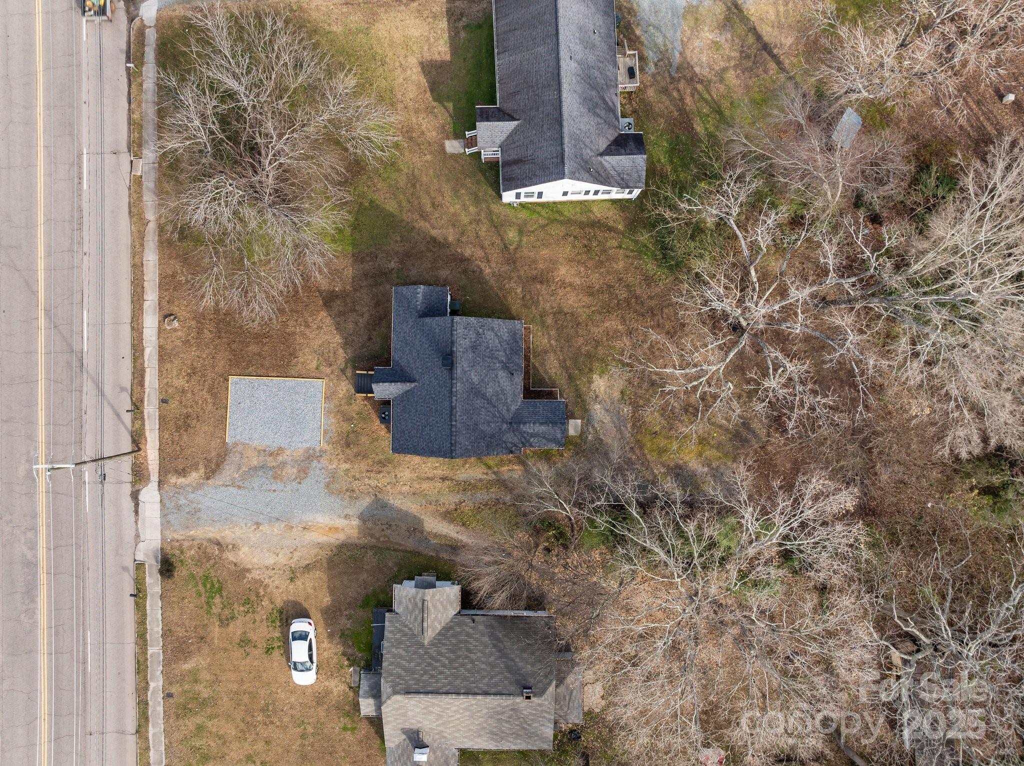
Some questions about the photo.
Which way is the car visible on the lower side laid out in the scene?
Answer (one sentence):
The car visible on the lower side is laid out up and down.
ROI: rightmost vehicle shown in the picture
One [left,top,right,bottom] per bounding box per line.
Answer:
[289,617,319,684]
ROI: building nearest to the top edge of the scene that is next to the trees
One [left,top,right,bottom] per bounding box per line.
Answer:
[474,0,649,203]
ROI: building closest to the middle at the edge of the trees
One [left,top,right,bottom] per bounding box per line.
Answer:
[371,285,567,458]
